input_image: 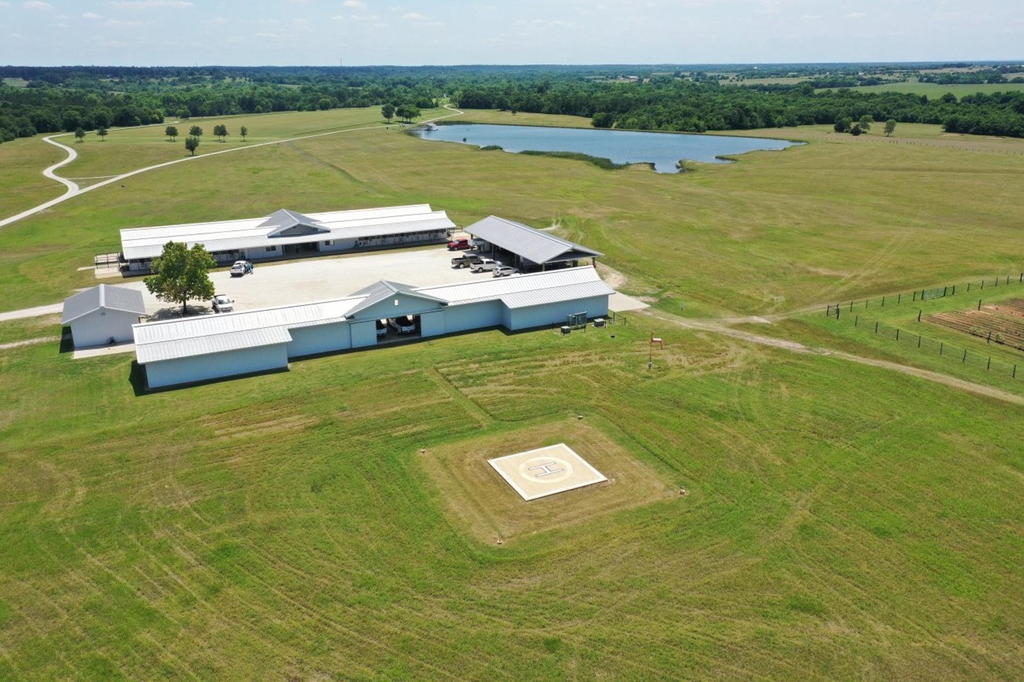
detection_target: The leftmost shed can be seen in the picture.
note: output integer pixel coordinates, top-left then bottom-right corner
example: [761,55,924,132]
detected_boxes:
[60,283,145,347]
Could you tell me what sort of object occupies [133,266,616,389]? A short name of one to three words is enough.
barn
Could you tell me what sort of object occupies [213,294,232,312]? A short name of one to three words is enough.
vehicle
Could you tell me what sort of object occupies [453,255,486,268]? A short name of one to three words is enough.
vehicle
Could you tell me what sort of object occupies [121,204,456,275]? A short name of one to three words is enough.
barn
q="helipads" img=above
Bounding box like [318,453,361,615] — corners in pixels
[487,442,607,502]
